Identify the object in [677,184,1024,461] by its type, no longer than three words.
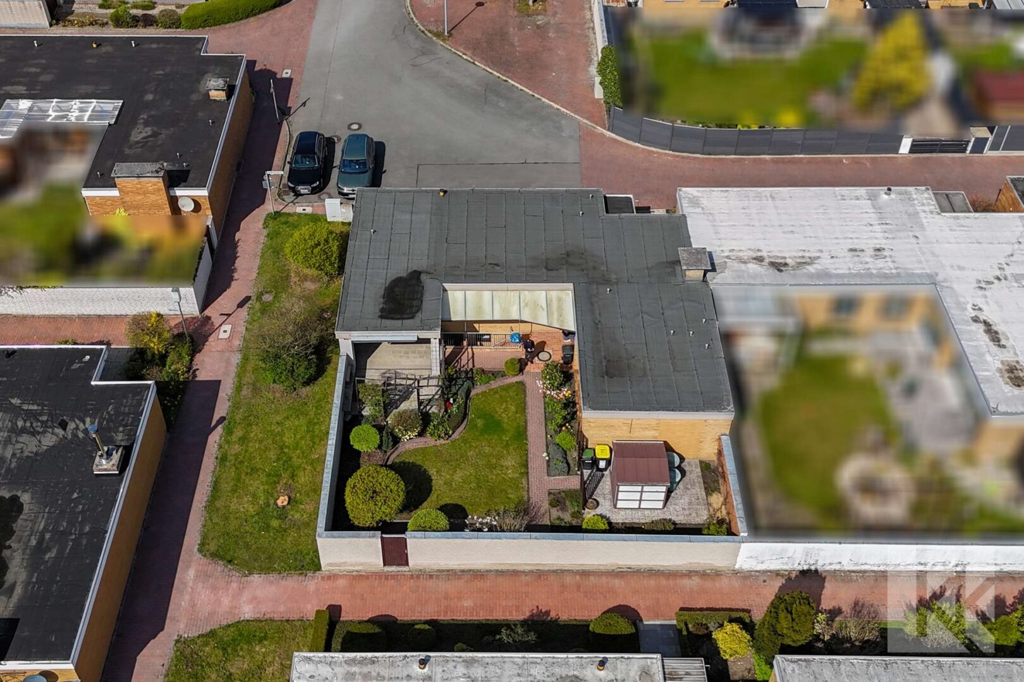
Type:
house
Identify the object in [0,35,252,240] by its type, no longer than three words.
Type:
house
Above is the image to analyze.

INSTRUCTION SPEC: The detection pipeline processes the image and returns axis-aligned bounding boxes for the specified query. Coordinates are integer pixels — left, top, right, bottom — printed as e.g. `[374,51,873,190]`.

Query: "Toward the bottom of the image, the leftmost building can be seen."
[0,344,164,682]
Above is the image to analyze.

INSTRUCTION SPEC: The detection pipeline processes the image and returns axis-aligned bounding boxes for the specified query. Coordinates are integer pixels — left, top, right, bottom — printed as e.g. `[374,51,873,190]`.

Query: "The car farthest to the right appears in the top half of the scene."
[334,132,376,197]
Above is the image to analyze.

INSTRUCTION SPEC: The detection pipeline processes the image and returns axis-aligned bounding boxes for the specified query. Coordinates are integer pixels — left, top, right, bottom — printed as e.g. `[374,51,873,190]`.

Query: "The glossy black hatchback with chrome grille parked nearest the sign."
[286,131,329,192]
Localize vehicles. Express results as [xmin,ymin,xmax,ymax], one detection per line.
[286,131,329,192]
[334,132,376,197]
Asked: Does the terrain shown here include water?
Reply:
No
